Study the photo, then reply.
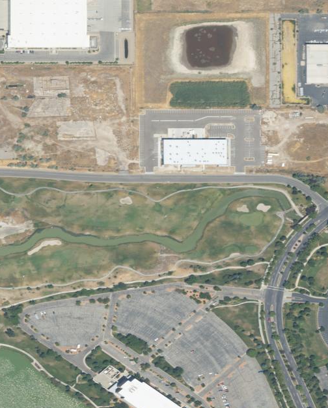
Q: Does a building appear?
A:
Yes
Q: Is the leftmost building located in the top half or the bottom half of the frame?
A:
top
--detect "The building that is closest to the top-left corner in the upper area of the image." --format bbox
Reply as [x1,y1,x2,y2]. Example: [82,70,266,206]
[7,0,90,48]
